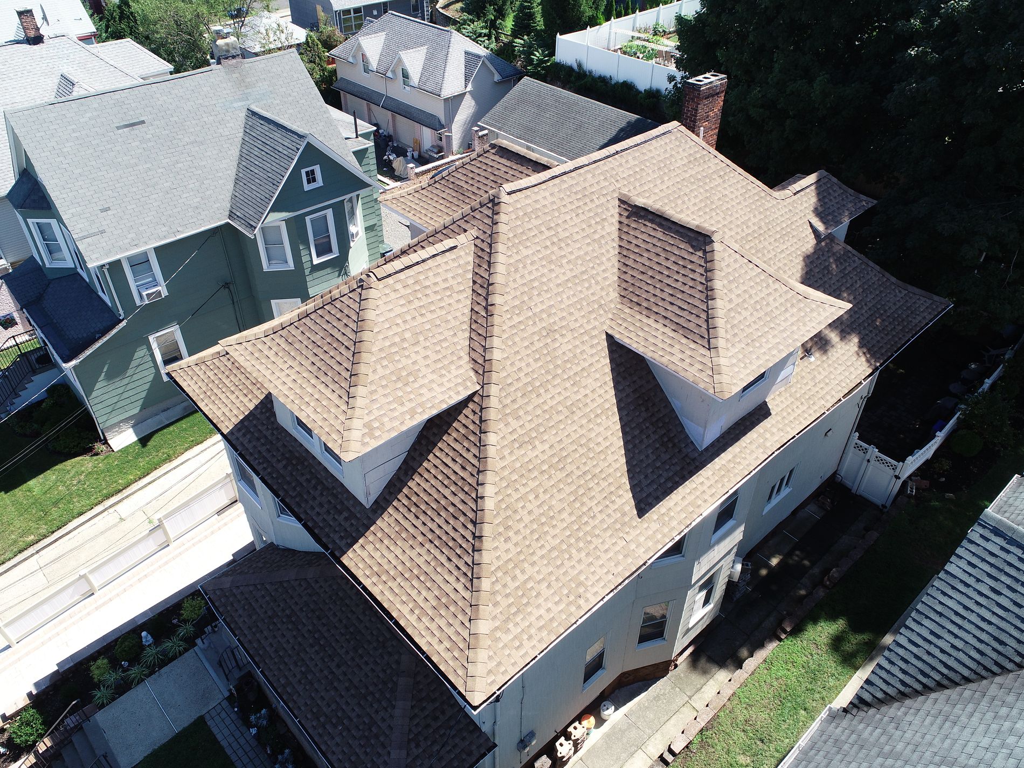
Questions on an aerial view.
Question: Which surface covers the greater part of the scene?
buildings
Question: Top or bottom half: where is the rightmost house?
bottom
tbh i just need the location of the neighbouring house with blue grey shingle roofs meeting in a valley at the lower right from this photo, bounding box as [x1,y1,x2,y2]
[792,480,1024,768]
